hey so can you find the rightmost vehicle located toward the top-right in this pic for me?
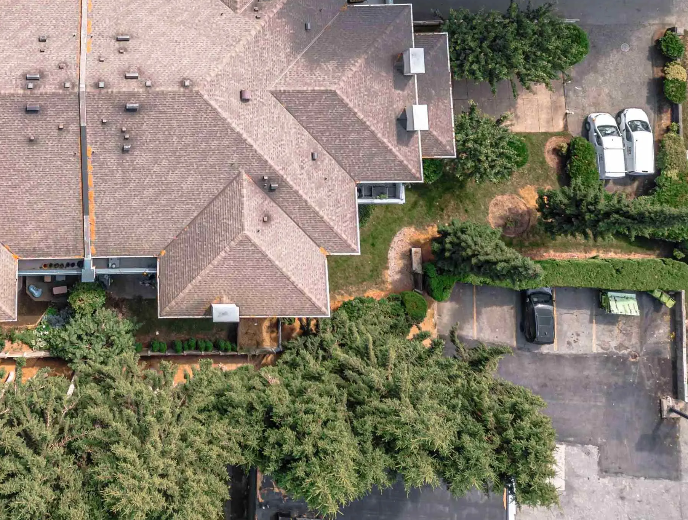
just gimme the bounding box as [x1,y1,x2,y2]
[616,109,656,175]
